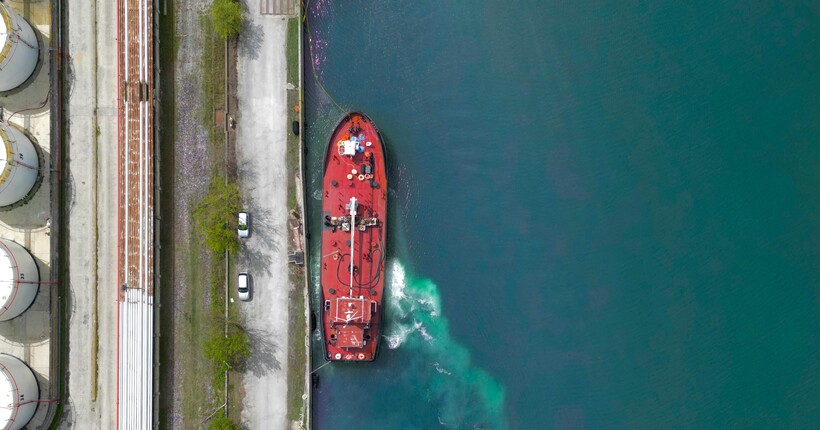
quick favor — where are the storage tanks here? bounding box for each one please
[0,235,59,322]
[0,0,59,97]
[0,119,59,211]
[0,352,59,430]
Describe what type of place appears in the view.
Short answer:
industrial area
